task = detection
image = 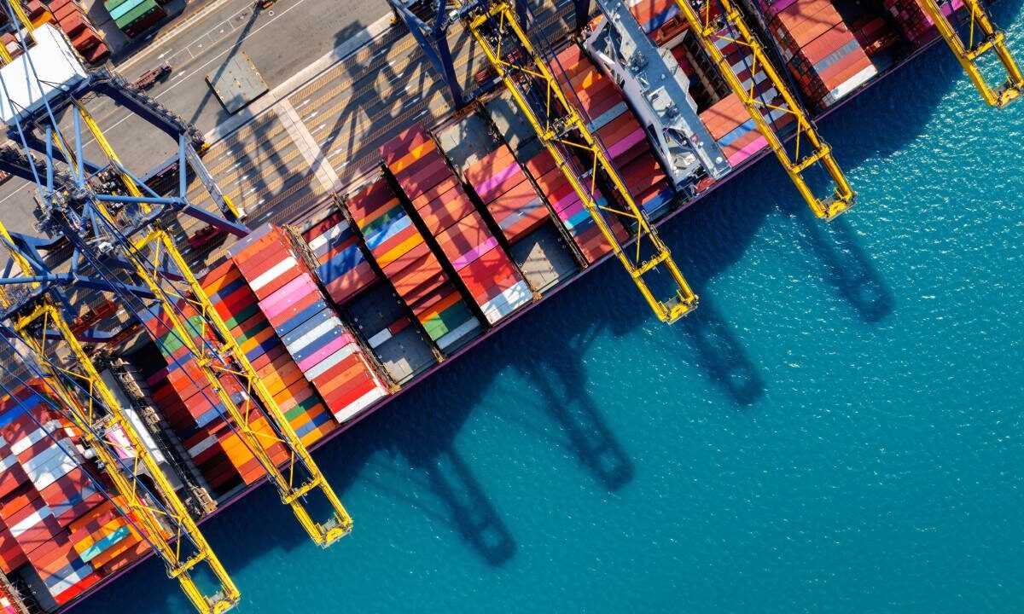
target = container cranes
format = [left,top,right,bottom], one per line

[0,149,240,614]
[385,0,702,319]
[923,0,1024,104]
[675,0,857,218]
[0,0,350,549]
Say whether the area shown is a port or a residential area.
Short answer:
port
